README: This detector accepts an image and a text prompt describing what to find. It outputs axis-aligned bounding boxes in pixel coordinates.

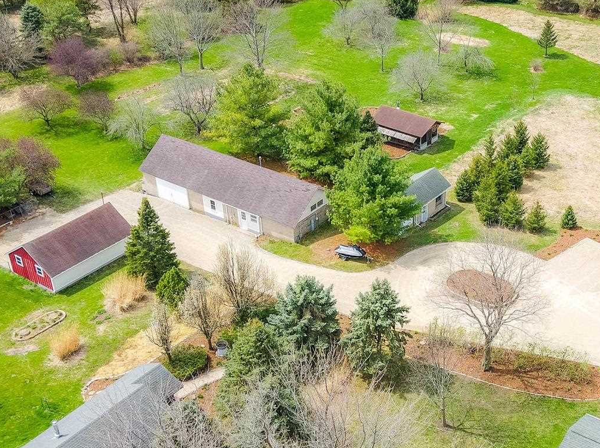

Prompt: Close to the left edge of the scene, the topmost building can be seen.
[5,202,137,293]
